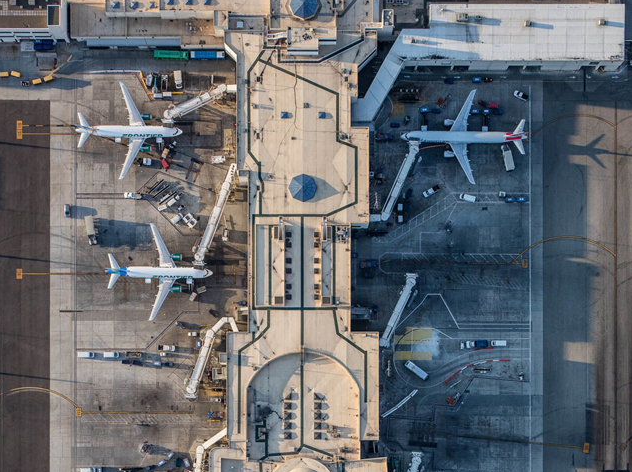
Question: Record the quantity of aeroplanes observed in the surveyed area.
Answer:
three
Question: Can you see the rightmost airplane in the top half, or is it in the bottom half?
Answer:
top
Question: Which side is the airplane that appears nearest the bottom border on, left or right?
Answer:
left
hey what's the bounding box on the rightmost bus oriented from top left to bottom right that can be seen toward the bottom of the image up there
[403,358,429,379]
